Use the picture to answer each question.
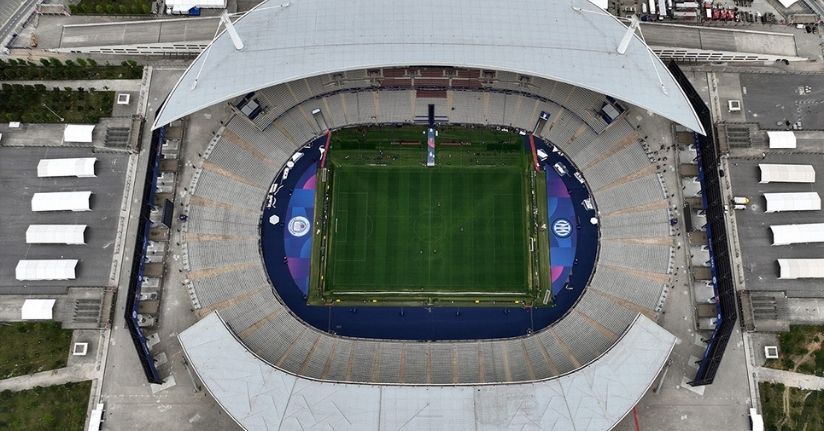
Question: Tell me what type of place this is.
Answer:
sports ground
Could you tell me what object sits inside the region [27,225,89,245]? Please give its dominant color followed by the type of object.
white tent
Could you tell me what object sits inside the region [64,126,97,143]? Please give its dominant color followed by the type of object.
white tent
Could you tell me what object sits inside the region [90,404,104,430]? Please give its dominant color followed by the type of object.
white vehicle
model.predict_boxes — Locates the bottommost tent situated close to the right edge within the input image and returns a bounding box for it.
[774,259,824,280]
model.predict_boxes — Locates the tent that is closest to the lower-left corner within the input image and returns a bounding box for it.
[23,299,58,321]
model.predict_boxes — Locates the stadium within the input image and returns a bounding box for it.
[152,0,706,431]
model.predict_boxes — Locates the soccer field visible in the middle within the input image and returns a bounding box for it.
[311,126,552,304]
